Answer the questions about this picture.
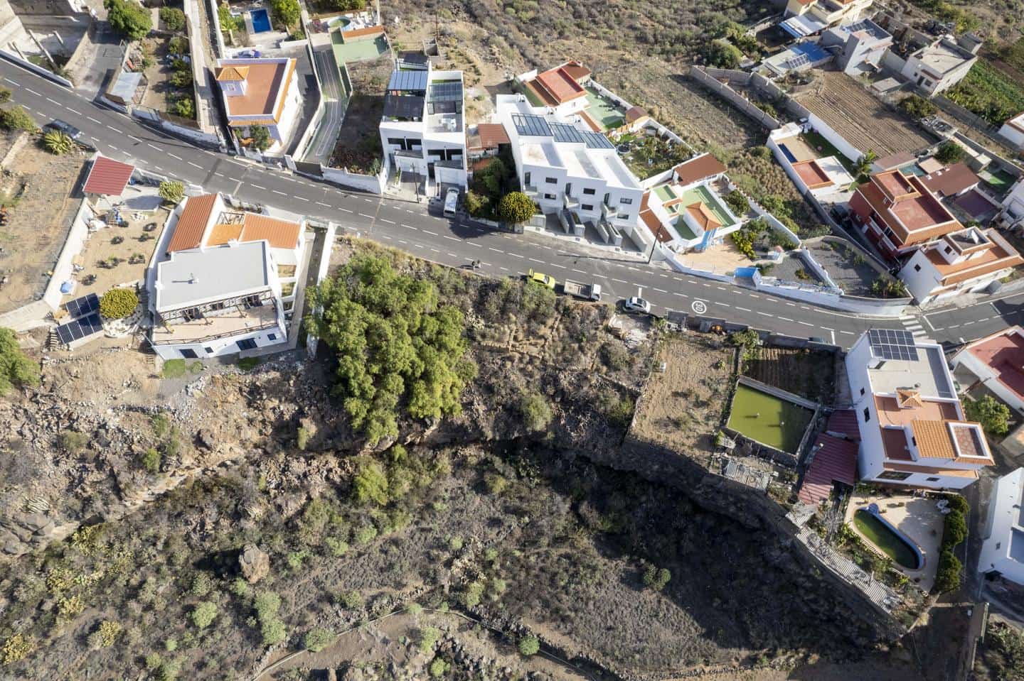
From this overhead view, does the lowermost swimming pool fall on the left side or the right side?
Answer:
right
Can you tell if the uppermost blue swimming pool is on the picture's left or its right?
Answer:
left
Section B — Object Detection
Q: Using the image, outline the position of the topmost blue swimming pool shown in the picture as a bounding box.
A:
[249,8,275,35]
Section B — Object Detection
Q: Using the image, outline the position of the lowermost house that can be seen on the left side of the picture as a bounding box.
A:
[150,193,313,359]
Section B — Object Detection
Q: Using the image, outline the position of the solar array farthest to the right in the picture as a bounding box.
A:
[868,329,919,362]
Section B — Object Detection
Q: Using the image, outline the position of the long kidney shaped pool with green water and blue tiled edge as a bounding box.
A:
[850,504,924,573]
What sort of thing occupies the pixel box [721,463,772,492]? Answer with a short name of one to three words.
shed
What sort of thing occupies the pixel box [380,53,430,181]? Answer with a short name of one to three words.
house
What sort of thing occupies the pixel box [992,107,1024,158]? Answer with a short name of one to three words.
house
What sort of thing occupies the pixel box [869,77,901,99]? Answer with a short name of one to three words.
shed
